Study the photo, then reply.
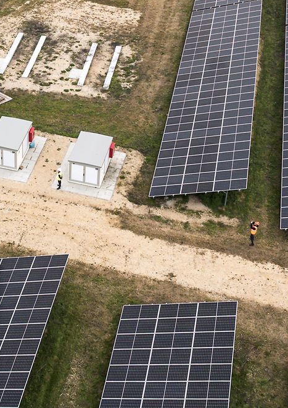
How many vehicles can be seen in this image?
zero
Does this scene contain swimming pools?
No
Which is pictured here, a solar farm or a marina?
solar farm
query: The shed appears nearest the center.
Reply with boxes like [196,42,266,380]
[66,123,118,187]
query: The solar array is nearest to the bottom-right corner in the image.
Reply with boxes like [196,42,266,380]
[99,301,237,408]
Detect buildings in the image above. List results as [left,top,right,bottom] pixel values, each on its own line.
[0,110,36,170]
[66,123,118,187]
